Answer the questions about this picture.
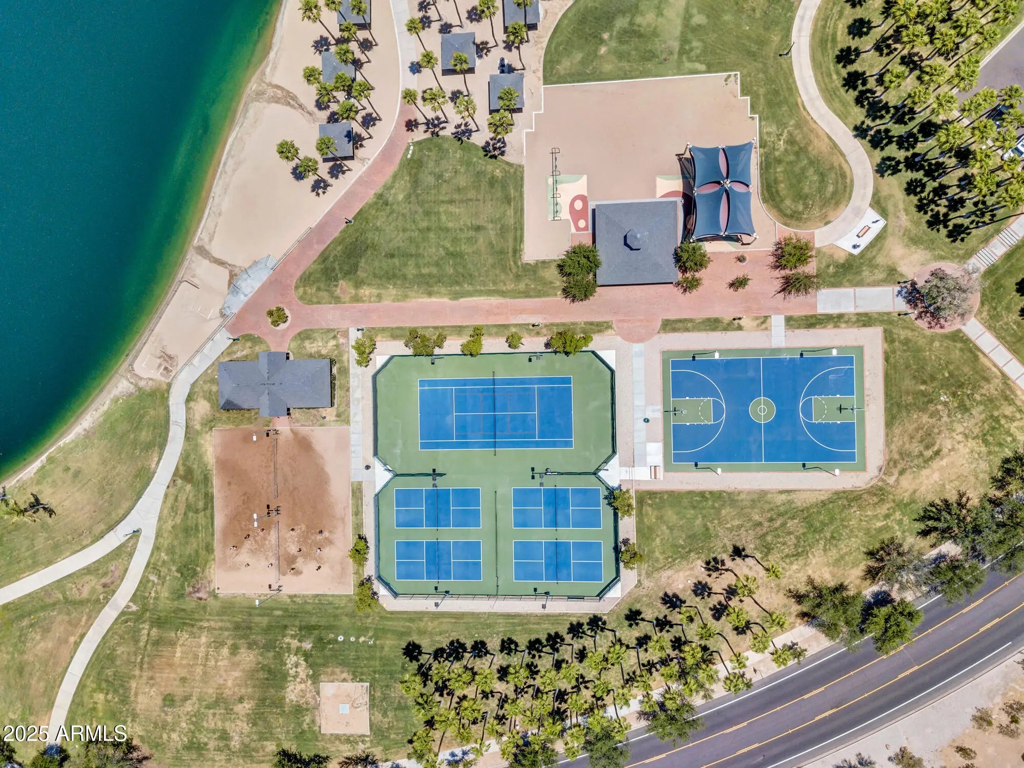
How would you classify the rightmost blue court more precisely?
basketball court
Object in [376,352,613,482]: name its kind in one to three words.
tennis court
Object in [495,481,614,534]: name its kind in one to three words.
sports court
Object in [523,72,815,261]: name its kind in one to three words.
playground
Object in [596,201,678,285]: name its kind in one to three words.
building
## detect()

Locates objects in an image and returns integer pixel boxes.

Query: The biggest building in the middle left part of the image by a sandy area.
[214,352,331,417]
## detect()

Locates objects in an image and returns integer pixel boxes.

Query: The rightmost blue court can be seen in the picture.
[662,346,866,472]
